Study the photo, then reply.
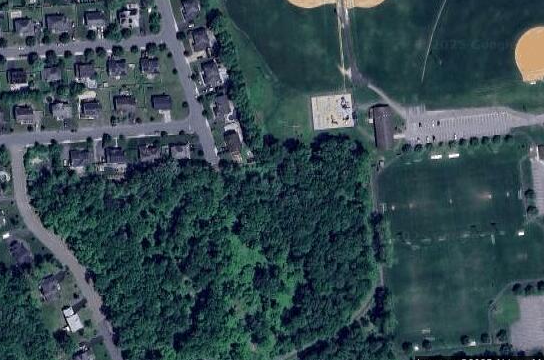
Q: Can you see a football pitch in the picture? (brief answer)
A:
Yes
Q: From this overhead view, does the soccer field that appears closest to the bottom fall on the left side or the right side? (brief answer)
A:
right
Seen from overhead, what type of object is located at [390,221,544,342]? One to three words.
soccer field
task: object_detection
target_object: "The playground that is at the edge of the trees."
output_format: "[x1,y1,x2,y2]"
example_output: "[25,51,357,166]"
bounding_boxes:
[311,93,355,130]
